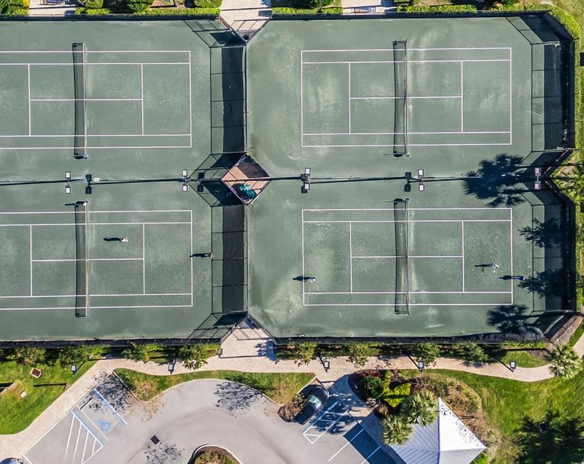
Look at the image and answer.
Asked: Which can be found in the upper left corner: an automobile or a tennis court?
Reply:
tennis court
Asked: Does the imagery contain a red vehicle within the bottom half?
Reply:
No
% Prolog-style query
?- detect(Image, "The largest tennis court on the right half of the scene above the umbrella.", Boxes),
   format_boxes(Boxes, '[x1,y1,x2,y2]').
[247,16,564,178]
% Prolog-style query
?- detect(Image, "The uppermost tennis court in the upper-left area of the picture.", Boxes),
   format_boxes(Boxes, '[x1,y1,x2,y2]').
[0,19,247,182]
